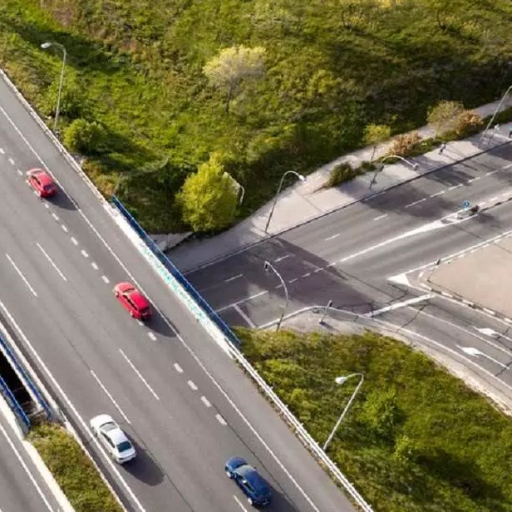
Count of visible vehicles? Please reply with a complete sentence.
The photo contains 4 vehicles.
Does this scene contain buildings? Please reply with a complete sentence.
No, the picture doesn't show any building.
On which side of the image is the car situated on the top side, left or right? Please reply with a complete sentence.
You can find the car situated on the top side on the left side of the picture.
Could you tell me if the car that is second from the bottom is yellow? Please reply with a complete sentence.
No, the car that is second from the bottom is white.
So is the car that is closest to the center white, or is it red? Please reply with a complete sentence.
The color of the car that is closest to the center is red.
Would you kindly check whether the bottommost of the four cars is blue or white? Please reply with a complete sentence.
From above, the bottommost of the four cars appears blue.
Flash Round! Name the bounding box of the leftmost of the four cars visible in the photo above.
[26,170,56,198]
